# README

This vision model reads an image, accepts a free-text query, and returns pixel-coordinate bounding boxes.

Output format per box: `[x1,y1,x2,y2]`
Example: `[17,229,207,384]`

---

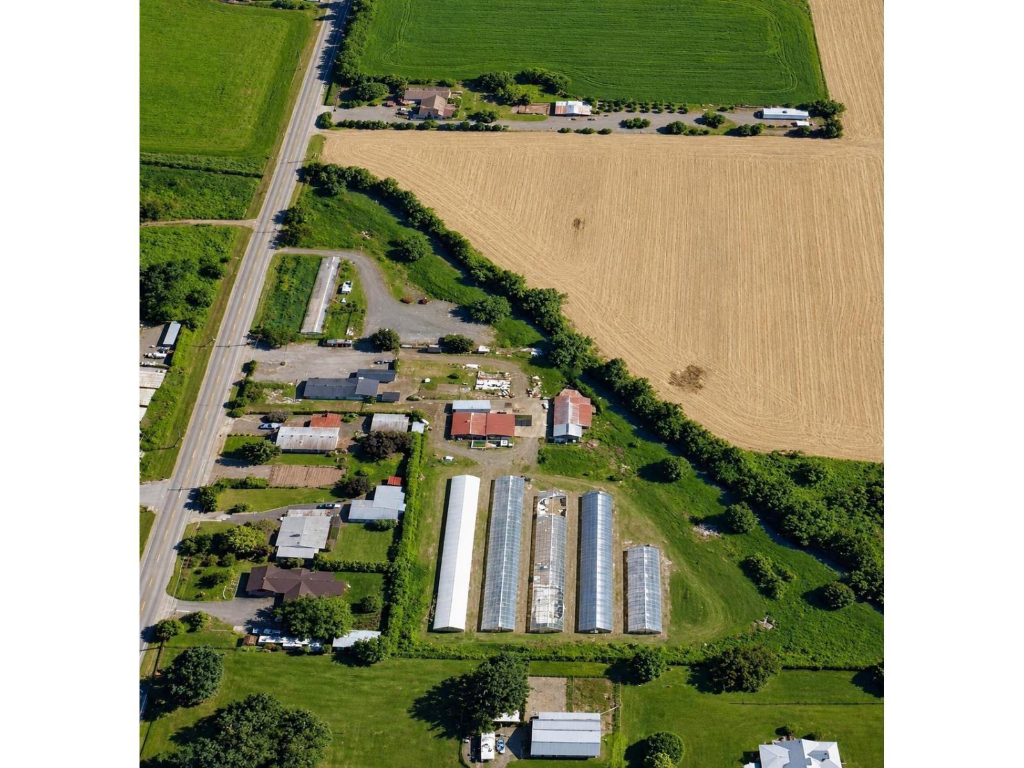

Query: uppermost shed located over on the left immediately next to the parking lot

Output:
[302,255,341,338]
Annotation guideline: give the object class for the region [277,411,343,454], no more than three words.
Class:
house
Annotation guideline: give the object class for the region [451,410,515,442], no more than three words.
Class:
building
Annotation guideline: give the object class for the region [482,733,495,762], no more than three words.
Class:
vehicle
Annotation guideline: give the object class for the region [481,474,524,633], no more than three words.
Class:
greenhouse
